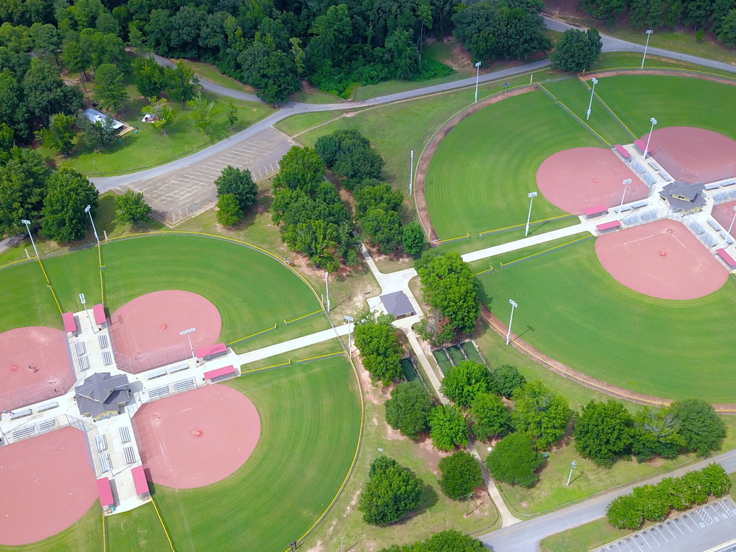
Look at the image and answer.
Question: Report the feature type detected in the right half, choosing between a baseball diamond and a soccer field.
baseball diamond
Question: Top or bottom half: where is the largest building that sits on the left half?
bottom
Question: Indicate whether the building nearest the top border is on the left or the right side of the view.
left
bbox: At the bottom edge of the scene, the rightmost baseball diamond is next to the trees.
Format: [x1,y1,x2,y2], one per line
[129,352,365,552]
